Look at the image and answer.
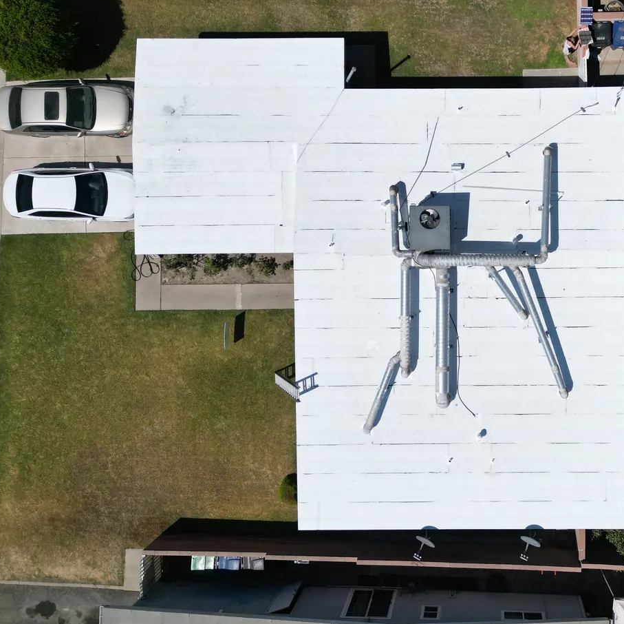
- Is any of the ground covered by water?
No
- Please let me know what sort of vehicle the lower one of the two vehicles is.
car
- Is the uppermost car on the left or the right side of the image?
left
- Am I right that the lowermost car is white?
Yes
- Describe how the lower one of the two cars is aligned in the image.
from side to side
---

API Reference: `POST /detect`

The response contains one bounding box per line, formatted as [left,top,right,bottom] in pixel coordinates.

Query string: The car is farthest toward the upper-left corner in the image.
[0,77,133,141]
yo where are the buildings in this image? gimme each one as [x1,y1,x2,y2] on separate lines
[97,584,611,624]
[131,39,624,530]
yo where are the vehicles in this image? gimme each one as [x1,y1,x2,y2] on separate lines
[2,164,134,228]
[0,77,133,141]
